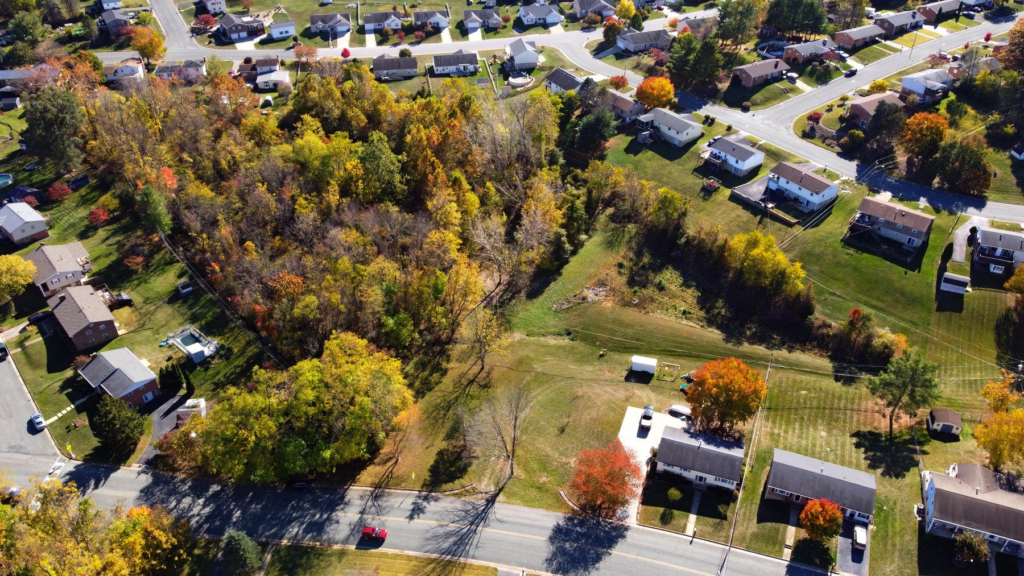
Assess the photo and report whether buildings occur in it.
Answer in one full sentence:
Yes, the picture does show a building.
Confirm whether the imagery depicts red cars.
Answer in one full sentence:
Yes, I can see a red car in this picture.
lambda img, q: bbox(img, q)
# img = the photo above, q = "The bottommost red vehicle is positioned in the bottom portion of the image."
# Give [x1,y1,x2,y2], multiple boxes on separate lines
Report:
[360,528,389,544]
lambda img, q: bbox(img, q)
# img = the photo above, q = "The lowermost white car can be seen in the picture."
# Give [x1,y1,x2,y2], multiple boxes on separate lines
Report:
[854,523,869,550]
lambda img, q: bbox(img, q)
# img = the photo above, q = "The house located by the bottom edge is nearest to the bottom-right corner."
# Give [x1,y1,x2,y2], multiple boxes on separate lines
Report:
[918,456,1024,565]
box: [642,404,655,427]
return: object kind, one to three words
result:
vehicle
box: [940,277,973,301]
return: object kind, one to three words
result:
shed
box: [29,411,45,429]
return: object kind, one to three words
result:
car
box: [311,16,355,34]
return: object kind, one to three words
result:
house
